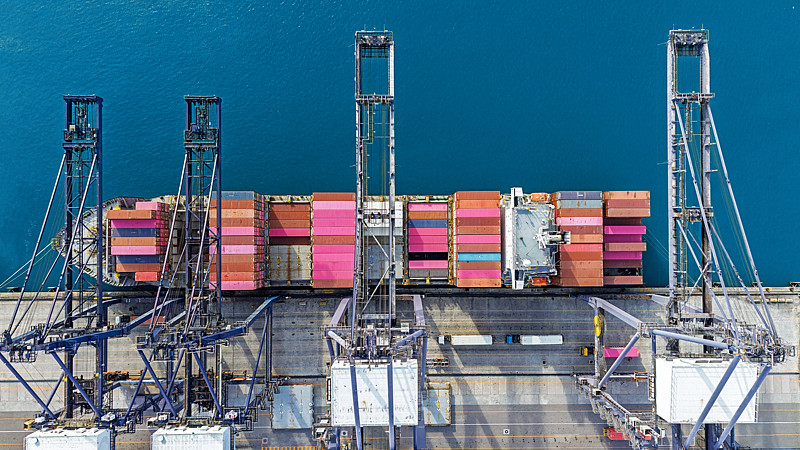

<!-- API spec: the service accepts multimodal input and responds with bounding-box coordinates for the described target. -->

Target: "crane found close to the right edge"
[573,19,800,450]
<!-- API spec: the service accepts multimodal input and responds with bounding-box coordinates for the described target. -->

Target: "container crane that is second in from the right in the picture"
[318,19,430,450]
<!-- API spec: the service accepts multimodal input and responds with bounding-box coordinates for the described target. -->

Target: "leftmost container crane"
[0,85,198,450]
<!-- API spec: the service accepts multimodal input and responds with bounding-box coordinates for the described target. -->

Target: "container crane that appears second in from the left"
[136,85,291,450]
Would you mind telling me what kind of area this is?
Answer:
port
